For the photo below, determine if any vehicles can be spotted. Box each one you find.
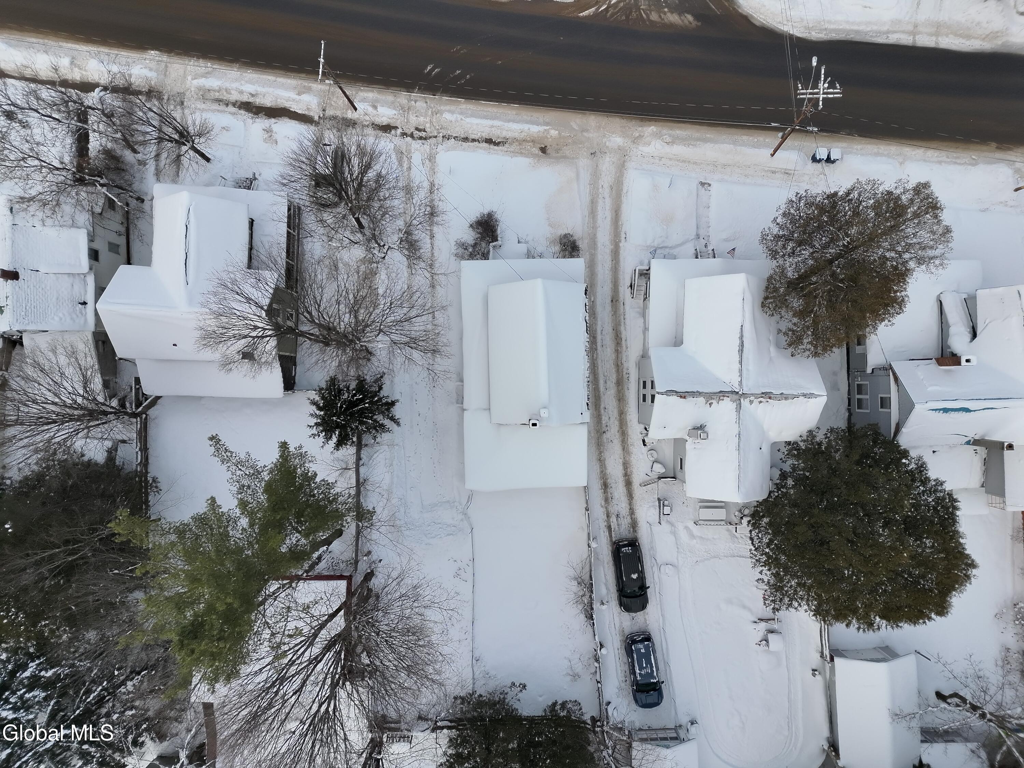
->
[624,630,665,707]
[614,537,656,614]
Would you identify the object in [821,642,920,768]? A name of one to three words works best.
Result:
building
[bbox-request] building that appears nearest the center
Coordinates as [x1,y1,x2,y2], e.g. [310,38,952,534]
[461,258,591,490]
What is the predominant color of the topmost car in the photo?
black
